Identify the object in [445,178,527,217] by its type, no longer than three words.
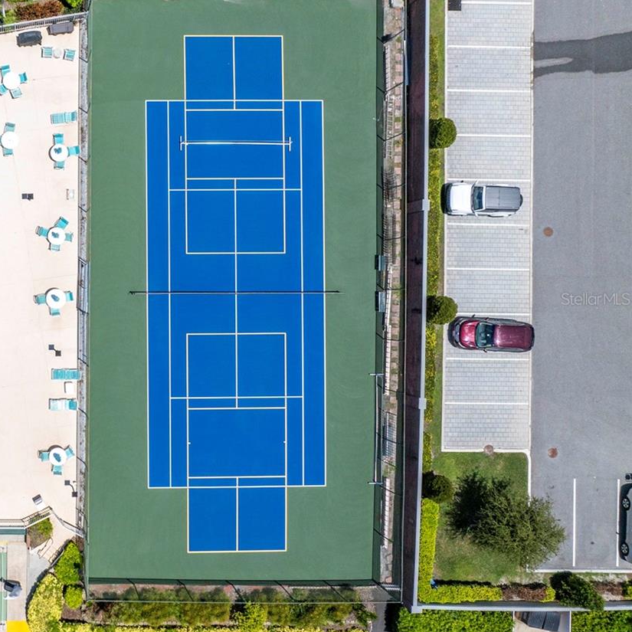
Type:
car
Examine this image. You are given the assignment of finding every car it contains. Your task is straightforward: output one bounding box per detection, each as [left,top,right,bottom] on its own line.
[445,178,527,217]
[622,487,632,561]
[448,315,537,353]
